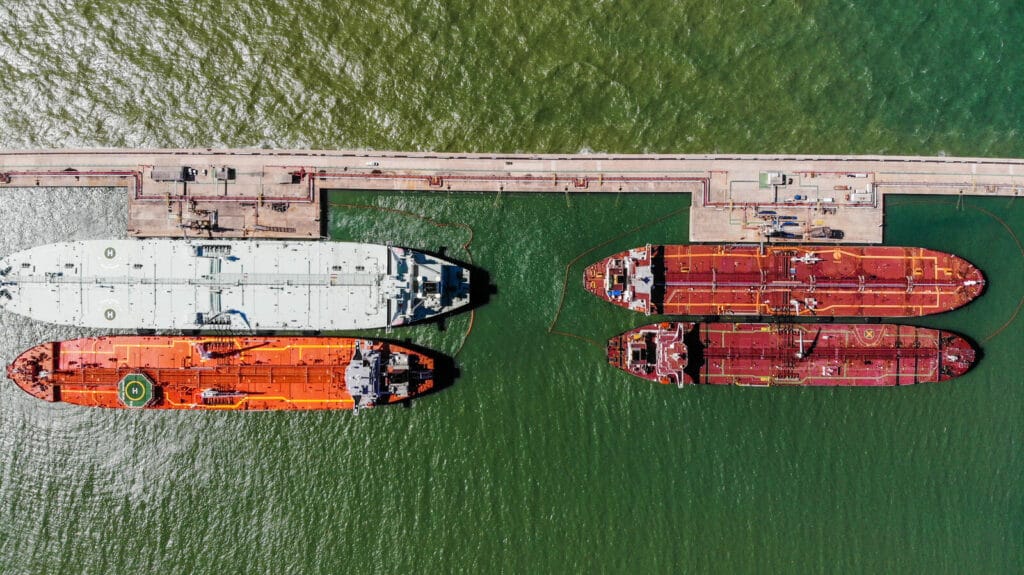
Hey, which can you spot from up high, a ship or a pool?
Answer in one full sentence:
Of the two, only a ship appears.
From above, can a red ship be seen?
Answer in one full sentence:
Yes, there is a red ship in the image.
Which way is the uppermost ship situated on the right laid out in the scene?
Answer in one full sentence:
The uppermost ship situated on the right runs from left to right in the image.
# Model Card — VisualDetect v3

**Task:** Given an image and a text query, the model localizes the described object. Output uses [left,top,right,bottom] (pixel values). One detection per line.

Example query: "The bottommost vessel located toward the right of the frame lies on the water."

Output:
[608,321,976,388]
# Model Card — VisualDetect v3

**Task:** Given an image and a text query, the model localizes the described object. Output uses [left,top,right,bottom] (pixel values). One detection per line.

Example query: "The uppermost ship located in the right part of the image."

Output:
[584,244,986,317]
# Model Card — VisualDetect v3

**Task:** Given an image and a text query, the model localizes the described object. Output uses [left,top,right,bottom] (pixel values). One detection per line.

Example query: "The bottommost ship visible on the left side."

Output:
[6,335,435,415]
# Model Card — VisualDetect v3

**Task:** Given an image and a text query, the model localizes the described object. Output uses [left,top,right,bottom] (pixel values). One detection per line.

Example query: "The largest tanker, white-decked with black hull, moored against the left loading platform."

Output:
[0,239,469,332]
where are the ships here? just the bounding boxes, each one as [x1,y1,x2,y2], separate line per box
[0,239,469,332]
[584,244,986,317]
[608,321,976,388]
[6,335,435,415]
